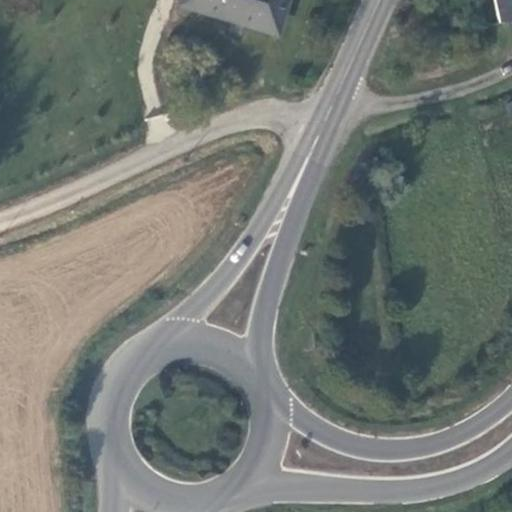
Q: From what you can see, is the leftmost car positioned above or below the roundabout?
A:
above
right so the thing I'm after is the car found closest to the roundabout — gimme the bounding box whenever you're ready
[231,240,252,260]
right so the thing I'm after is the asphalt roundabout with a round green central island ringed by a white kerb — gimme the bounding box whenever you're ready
[87,312,291,512]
